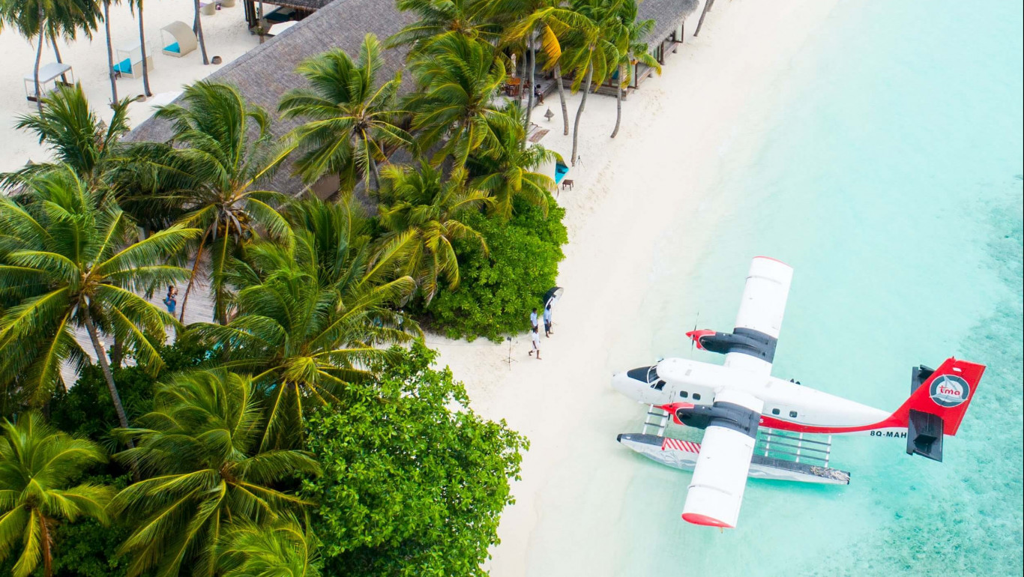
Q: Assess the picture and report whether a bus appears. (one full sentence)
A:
No, this view has no bus in it.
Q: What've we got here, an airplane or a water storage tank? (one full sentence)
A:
Visible in the photo is an airplane.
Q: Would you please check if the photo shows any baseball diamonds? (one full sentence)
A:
No, no baseball diamond is visible in the view.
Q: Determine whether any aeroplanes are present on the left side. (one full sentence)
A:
No, there is no aeroplane on the left side.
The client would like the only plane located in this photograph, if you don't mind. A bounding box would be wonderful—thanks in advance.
[610,258,986,525]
